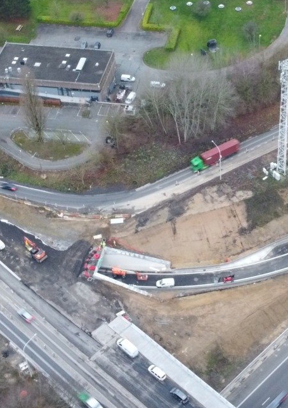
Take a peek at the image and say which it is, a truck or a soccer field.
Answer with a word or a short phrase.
truck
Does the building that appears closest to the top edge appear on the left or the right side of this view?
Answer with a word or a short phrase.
left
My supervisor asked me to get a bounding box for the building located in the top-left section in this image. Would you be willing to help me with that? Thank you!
[0,44,114,100]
